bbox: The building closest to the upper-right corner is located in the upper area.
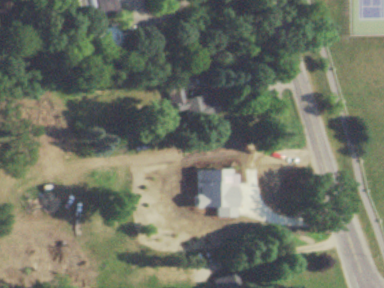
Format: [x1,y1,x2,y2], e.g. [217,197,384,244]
[170,86,216,118]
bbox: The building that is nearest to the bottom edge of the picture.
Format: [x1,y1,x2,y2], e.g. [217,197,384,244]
[216,272,242,288]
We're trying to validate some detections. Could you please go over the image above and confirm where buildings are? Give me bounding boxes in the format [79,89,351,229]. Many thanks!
[170,86,216,118]
[92,0,124,16]
[197,168,244,219]
[216,272,242,288]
